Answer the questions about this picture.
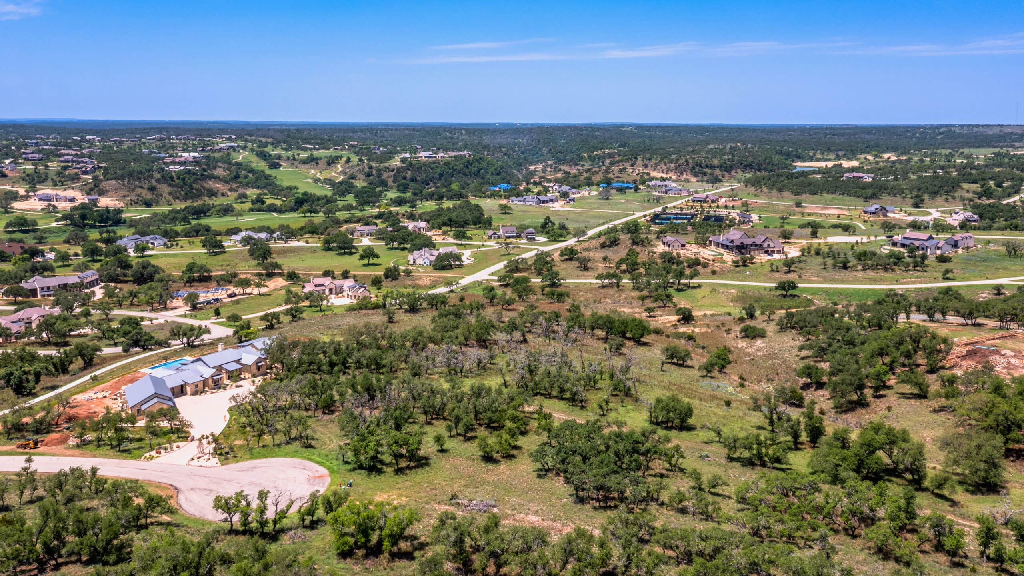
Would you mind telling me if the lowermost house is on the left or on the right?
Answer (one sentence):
The lowermost house sits on the left side.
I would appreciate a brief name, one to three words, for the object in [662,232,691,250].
house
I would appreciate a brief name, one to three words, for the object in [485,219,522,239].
house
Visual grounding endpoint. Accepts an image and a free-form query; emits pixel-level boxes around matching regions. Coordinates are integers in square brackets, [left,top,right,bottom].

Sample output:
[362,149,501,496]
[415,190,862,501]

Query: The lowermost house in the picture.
[125,336,274,422]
